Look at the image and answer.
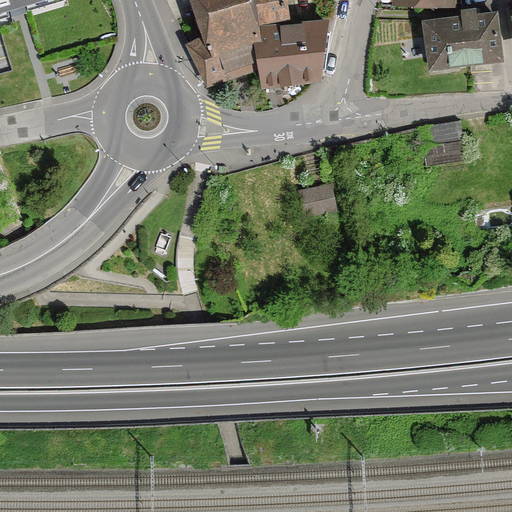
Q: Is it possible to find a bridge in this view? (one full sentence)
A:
No, the scene contains no bridge.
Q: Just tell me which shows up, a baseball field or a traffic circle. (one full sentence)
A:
The image shows a traffic circle.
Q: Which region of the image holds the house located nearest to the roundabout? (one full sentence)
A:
Look in the top portion of the view to spot the house located nearest to the roundabout.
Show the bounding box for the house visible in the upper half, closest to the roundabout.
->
[186,0,262,87]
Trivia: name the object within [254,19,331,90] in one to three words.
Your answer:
house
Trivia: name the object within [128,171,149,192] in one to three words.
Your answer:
car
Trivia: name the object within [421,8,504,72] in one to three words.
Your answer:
house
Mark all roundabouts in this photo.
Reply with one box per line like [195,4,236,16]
[92,62,202,172]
